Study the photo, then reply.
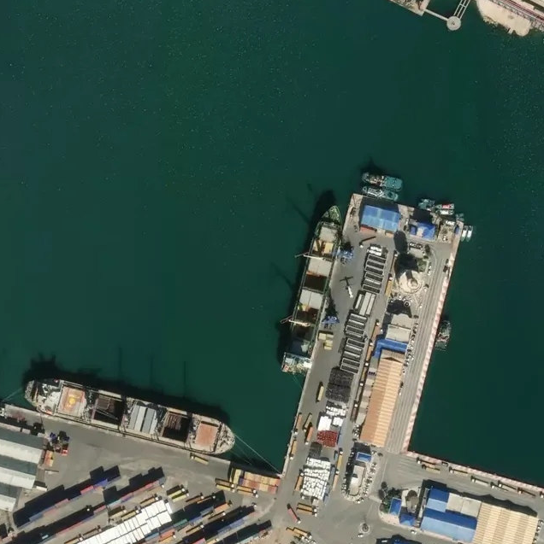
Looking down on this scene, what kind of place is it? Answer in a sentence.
This looks like a port.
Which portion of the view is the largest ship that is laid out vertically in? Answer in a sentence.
You can find the largest ship that is laid out vertically in the center area of the picture.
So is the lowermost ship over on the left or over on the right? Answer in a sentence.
The lowermost ship appears in the left half of the scene.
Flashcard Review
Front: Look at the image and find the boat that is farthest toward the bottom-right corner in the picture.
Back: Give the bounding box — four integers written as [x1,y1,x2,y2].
[434,321,451,352]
